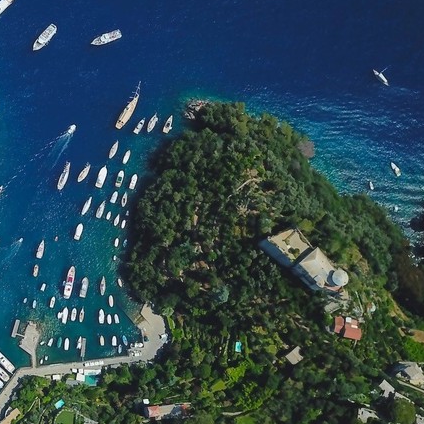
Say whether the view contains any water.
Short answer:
Yes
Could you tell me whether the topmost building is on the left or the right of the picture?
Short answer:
right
